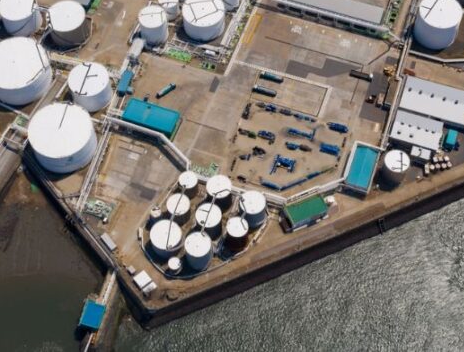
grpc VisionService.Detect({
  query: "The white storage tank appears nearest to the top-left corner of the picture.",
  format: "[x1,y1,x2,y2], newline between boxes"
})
[0,0,50,37]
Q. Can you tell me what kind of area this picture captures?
industrial area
